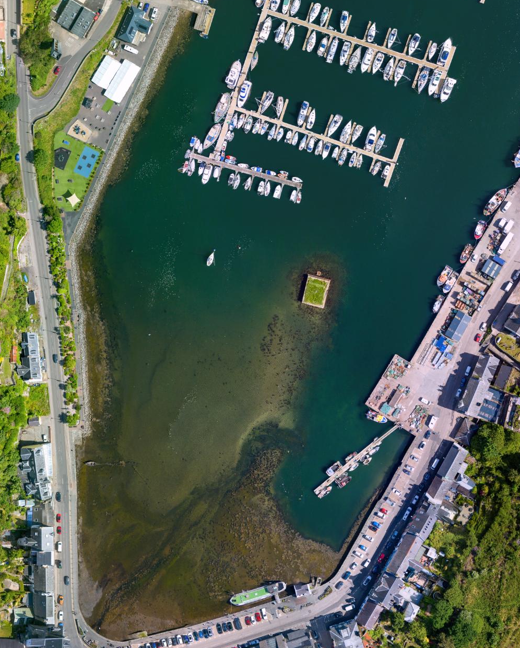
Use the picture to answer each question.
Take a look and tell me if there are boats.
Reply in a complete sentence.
Yes, a boat appears in the view.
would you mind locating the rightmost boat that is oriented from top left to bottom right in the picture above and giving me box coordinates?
[365,409,386,424]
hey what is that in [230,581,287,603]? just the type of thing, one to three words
ship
